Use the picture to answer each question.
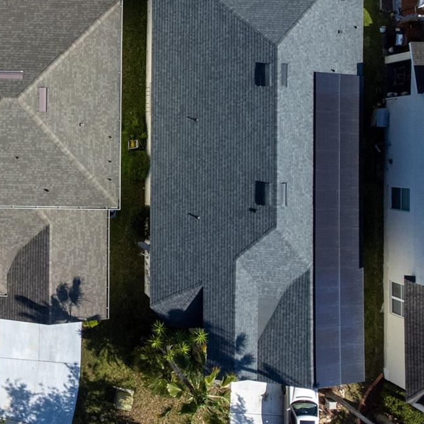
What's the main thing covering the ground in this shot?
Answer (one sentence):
Most of the picture is covered by buildings.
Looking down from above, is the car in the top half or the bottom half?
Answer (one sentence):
Seen from above, the car lies in the bottom half of the view.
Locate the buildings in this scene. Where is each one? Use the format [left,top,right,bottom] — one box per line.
[145,0,364,389]
[0,0,124,325]
[385,38,424,419]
